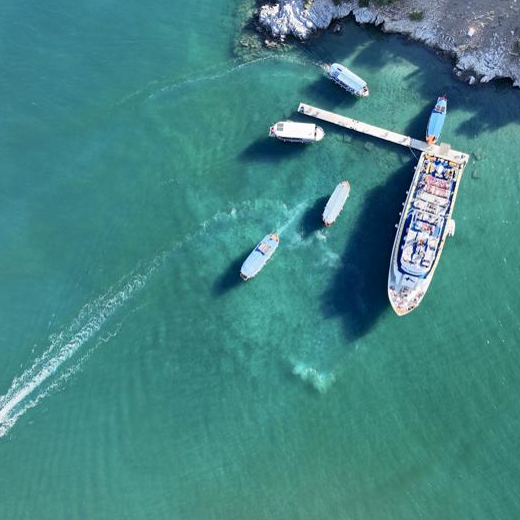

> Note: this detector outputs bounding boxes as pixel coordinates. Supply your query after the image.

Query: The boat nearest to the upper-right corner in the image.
[423,95,447,146]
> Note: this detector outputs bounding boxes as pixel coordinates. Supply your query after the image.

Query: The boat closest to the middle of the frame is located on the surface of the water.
[242,232,281,281]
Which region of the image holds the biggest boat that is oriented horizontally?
top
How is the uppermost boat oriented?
diagonally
